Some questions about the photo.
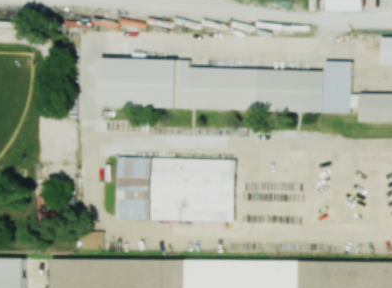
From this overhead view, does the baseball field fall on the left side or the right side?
left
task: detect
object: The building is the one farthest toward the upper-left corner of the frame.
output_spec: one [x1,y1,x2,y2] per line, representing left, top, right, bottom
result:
[96,58,176,108]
